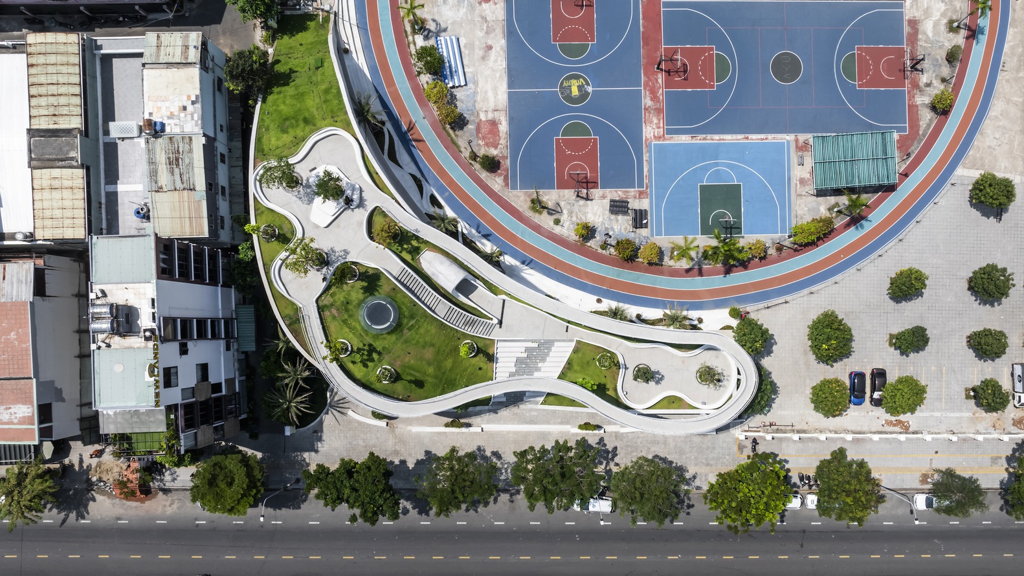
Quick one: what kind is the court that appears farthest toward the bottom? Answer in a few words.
basketball court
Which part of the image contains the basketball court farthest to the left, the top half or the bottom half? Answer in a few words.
top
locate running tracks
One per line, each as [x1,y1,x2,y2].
[355,0,1011,311]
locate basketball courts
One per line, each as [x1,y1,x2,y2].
[505,0,645,190]
[661,0,908,136]
[649,140,792,237]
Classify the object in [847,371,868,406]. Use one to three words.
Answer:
car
